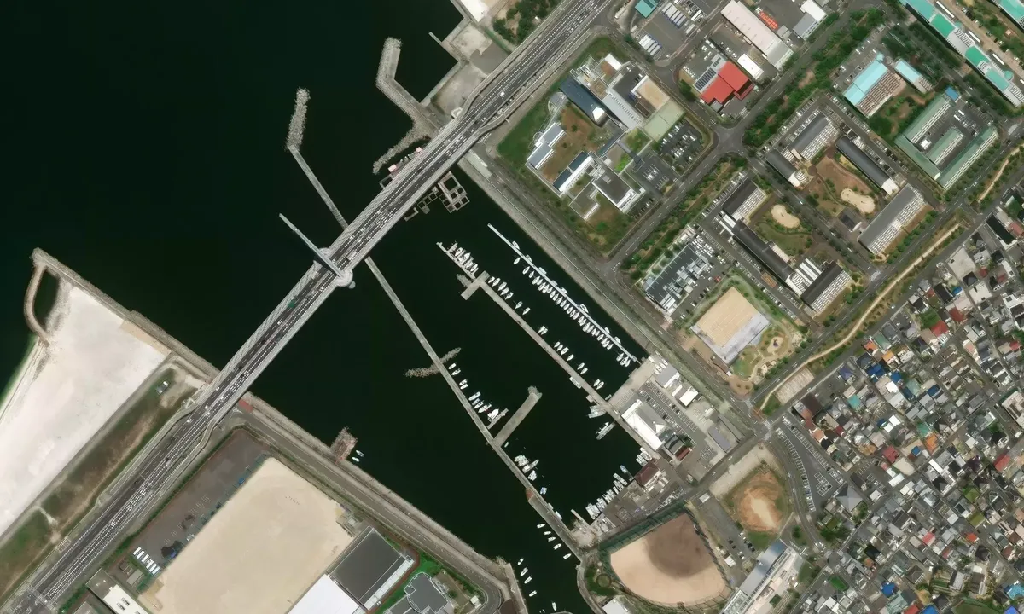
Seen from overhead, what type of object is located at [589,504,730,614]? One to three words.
baseball field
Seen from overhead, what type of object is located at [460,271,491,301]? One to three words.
pier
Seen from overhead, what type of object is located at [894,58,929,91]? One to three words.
building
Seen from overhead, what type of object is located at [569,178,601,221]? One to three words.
building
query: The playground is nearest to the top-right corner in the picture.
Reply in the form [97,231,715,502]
[841,188,875,212]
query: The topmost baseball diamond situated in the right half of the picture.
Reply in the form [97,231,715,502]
[733,461,788,533]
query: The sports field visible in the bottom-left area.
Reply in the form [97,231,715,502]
[136,455,351,614]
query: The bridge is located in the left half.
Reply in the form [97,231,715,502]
[15,0,610,614]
